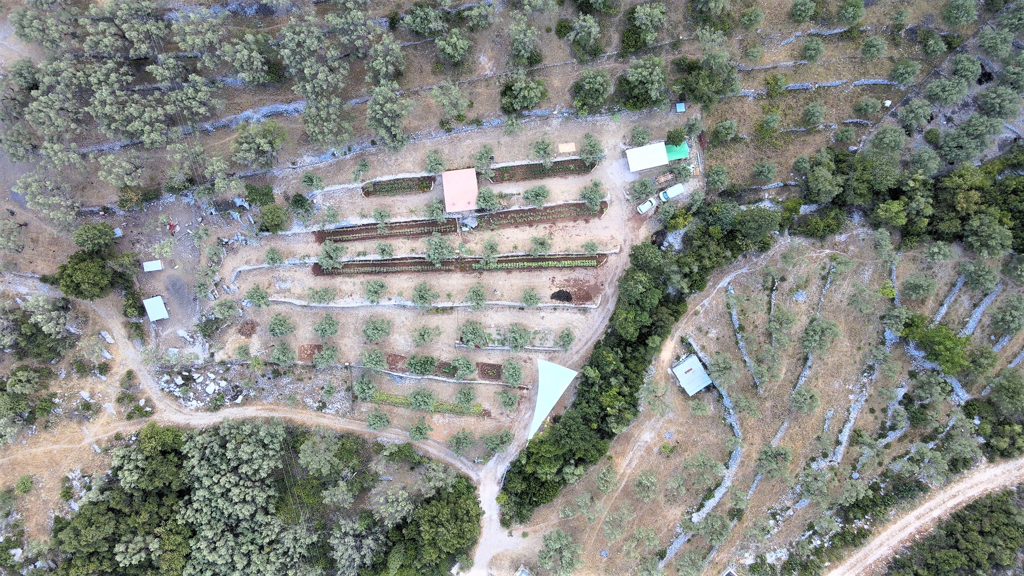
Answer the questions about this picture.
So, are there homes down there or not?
Yes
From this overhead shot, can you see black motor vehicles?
No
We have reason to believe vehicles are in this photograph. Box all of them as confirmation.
[637,197,657,215]
[658,182,686,203]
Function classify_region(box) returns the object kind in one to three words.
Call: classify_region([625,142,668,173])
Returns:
house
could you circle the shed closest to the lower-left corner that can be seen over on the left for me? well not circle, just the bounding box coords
[144,296,173,321]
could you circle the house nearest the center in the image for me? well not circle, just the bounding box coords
[442,168,478,212]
